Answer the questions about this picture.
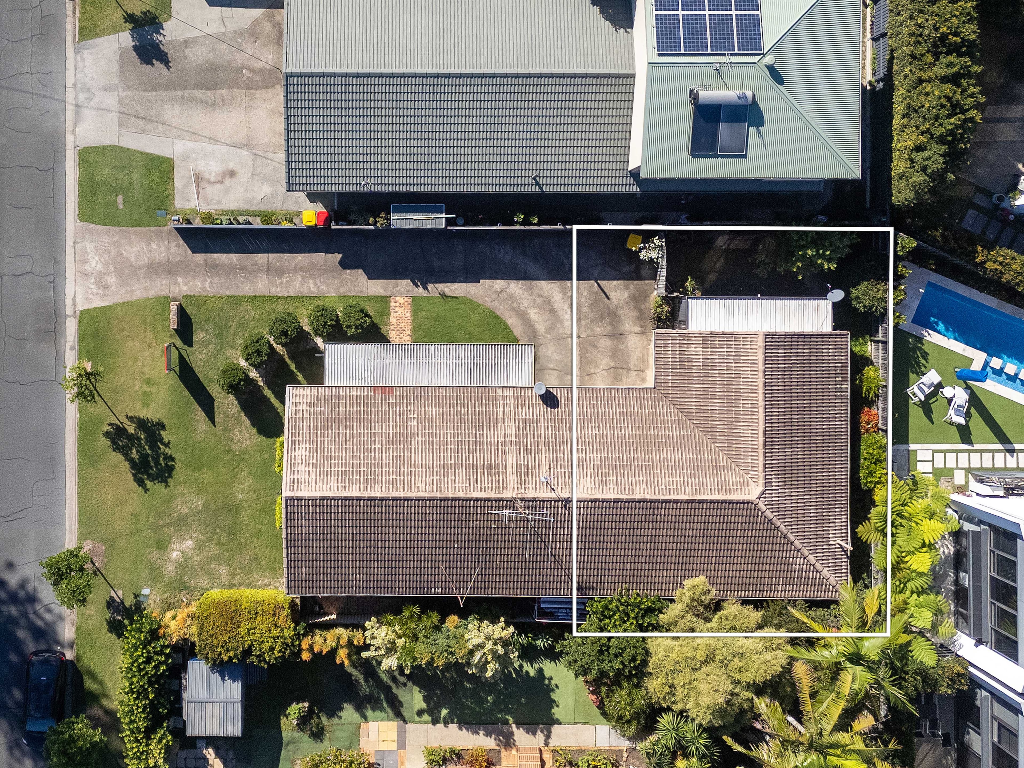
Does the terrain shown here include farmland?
No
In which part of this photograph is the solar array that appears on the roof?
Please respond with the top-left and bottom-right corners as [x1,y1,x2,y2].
[655,0,763,53]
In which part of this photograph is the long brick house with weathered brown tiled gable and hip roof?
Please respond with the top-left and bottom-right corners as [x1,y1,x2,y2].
[280,327,854,601]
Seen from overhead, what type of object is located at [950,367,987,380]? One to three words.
umbrella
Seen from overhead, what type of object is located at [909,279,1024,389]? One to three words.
swimming pool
